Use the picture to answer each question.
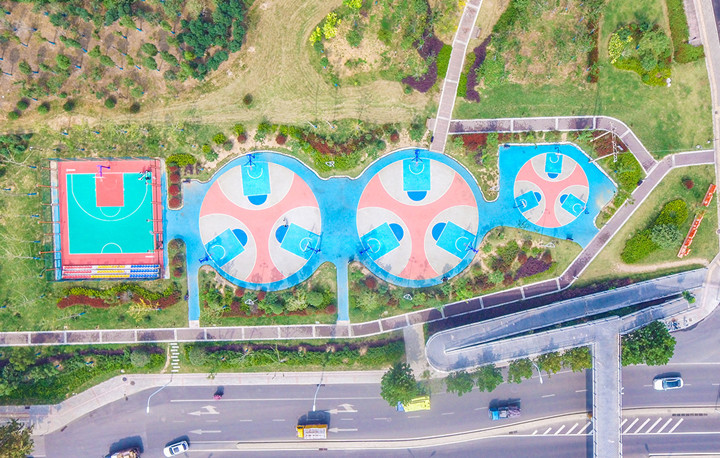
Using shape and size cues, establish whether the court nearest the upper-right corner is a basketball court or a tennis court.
basketball court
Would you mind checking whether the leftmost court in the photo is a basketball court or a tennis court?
basketball court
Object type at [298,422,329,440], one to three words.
vehicle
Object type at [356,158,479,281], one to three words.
basketball court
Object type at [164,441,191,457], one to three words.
car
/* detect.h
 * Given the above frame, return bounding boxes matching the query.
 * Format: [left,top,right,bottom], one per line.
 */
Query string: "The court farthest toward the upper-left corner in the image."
[51,160,168,281]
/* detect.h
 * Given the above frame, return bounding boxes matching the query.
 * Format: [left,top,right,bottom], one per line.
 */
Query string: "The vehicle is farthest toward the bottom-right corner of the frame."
[653,377,683,392]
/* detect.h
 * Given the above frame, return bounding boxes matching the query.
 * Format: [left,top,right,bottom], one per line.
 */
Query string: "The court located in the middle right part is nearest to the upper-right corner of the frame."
[513,151,590,228]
